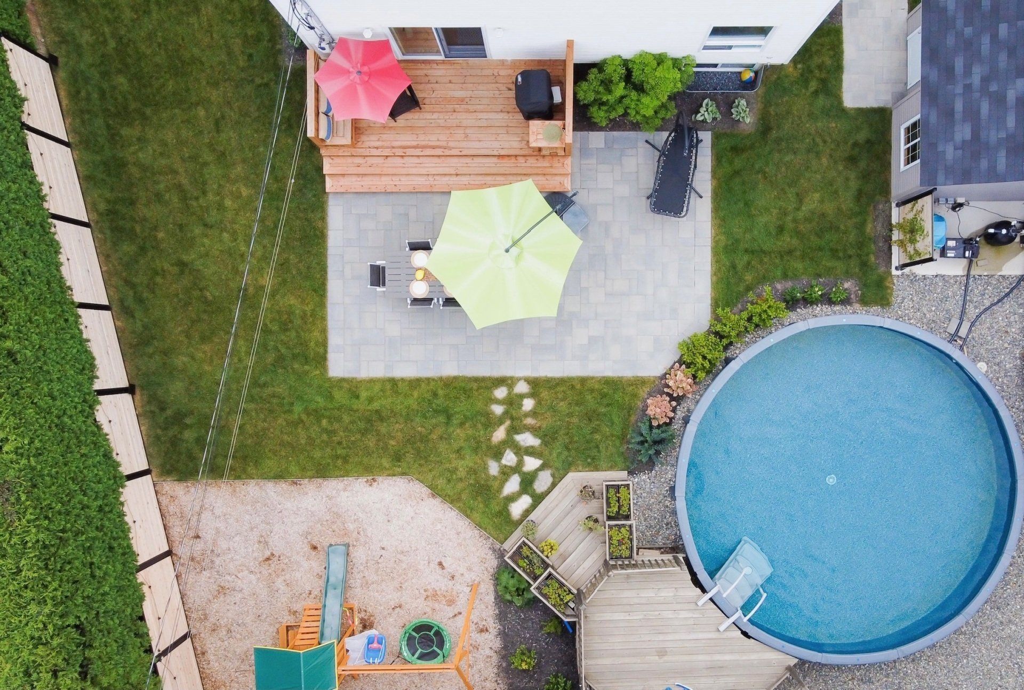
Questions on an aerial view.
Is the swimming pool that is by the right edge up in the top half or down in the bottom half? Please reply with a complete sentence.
Seen from above, the swimming pool that is by the right edge lies in the bottom half of the view.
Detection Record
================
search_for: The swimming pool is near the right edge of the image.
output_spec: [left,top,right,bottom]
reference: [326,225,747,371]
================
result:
[668,314,1024,665]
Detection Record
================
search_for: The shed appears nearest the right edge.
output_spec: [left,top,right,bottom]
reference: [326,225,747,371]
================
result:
[893,0,1024,201]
